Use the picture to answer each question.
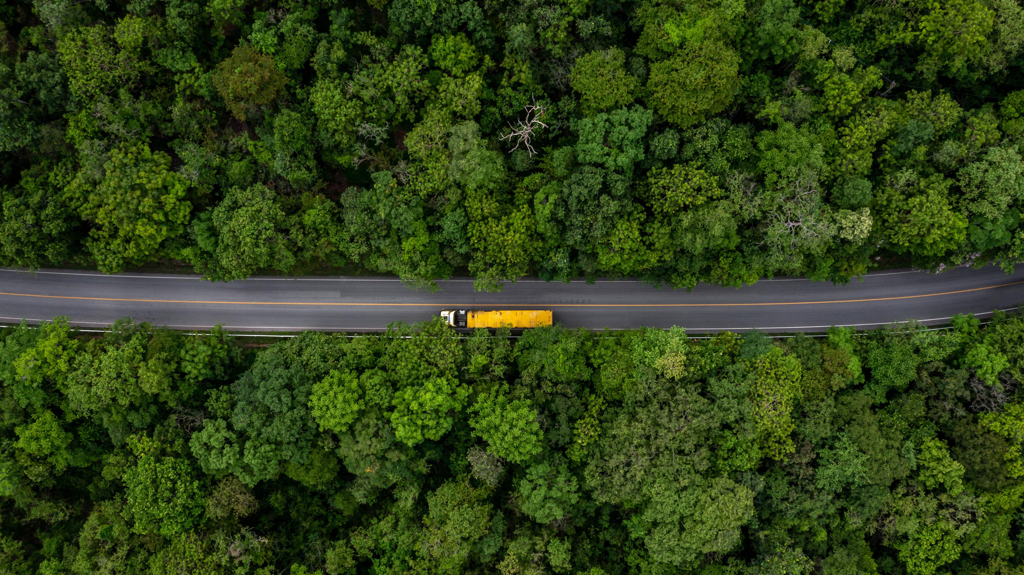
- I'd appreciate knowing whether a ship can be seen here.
No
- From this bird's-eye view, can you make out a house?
No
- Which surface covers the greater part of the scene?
trees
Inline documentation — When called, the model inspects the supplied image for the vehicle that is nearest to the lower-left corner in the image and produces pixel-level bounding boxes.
[440,307,472,329]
